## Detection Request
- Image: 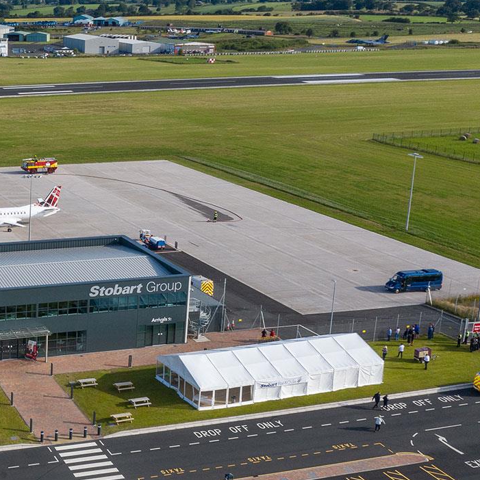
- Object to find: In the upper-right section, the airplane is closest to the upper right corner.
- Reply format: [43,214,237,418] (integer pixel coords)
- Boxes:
[352,33,391,46]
